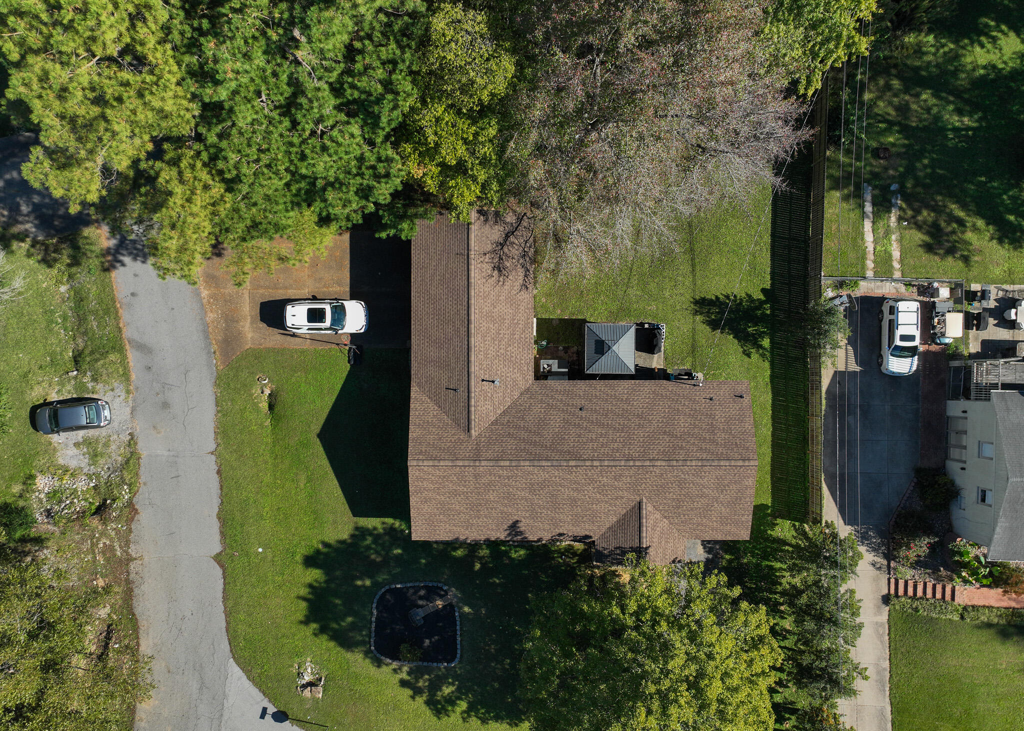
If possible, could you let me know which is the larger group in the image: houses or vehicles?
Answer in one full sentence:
Counting both kinds, the vehicles come out ahead of the houses.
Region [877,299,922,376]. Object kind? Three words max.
car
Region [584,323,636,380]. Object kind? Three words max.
gazebo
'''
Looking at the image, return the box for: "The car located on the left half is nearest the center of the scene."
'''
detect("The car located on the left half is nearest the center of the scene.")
[286,297,370,337]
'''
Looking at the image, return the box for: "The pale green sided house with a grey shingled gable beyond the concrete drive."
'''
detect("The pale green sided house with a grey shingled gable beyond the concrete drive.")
[945,389,1024,562]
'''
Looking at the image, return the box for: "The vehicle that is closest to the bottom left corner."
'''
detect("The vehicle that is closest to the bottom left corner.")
[37,399,114,437]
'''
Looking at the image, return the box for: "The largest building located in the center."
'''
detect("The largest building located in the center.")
[407,207,761,570]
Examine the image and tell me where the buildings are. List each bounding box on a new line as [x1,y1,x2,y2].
[407,207,761,570]
[945,389,1024,562]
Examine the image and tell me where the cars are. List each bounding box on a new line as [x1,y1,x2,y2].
[286,297,370,337]
[37,399,114,437]
[877,299,922,376]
